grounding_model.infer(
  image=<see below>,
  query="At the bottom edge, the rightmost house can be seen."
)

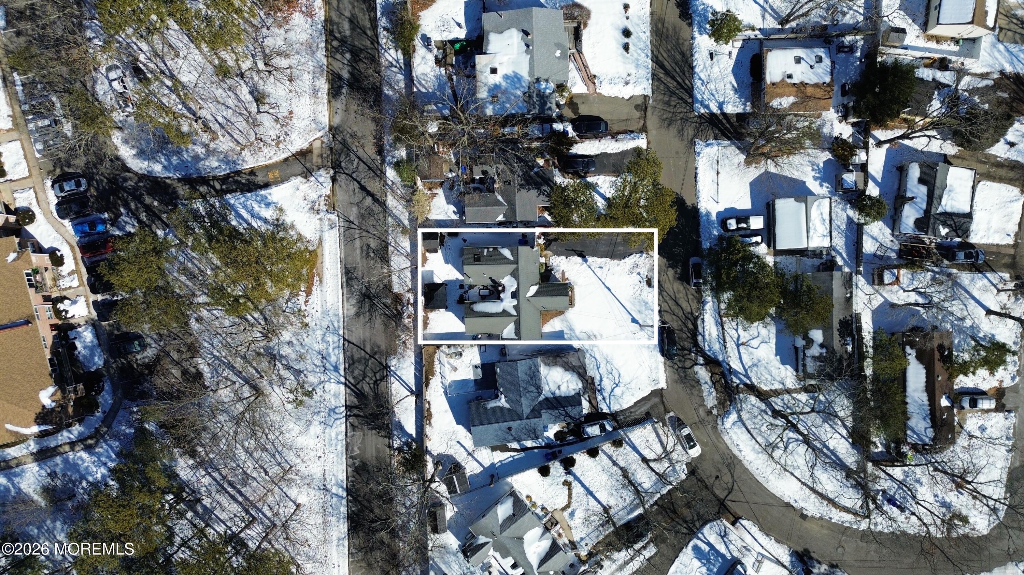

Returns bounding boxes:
[462,487,571,575]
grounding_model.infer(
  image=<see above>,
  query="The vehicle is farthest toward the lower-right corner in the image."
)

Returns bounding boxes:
[959,395,998,412]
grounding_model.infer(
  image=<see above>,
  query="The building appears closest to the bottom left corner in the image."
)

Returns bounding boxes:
[0,235,88,444]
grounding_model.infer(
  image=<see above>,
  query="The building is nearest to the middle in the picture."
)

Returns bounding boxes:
[463,246,568,340]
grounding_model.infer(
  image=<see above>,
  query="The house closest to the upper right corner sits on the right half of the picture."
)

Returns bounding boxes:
[927,0,996,39]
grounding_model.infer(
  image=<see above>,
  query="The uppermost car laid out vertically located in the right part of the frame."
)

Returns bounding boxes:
[688,255,705,290]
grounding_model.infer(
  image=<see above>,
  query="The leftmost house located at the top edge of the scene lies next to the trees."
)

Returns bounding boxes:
[476,7,569,121]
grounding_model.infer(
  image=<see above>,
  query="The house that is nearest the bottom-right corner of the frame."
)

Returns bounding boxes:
[892,331,955,445]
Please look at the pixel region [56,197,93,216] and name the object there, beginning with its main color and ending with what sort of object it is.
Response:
black car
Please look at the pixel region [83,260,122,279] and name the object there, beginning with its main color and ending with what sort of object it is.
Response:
black car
